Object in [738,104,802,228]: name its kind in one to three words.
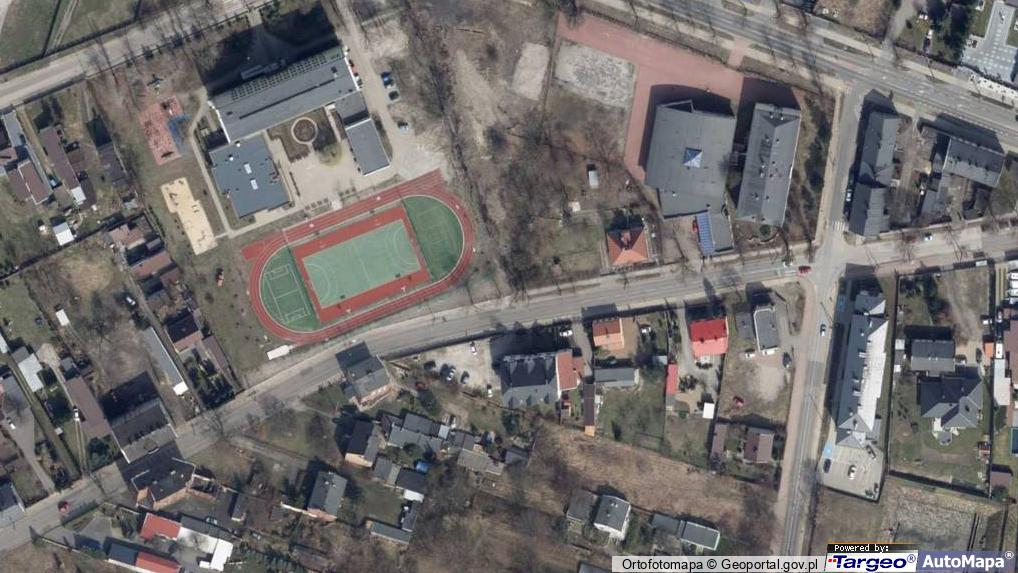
building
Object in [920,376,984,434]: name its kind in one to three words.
house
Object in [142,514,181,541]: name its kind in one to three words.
house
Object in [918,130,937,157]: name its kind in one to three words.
shed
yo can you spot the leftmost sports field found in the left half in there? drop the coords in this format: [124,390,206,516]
[263,242,320,328]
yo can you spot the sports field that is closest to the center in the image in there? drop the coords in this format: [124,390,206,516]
[402,196,461,284]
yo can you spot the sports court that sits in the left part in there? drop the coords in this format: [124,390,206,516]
[292,207,429,321]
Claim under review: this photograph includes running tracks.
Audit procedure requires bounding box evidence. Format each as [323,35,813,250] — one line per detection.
[242,168,475,341]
